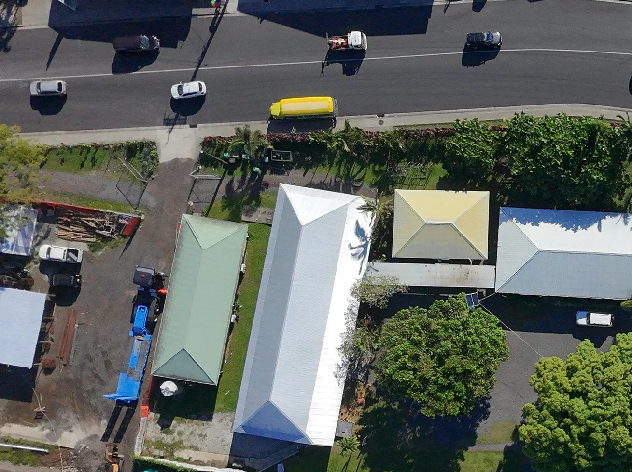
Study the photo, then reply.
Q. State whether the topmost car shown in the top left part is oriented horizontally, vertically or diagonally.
horizontally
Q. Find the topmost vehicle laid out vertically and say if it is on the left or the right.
left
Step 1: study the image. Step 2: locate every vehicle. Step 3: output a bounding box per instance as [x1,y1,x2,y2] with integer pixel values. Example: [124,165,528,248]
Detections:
[324,31,368,52]
[98,266,160,400]
[32,80,68,98]
[577,311,613,328]
[46,272,91,290]
[270,97,343,122]
[113,34,162,54]
[172,81,208,101]
[40,246,84,265]
[467,31,503,49]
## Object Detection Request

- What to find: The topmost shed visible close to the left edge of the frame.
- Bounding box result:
[0,201,48,255]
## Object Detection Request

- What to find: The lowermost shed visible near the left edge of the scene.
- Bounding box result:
[0,287,61,370]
